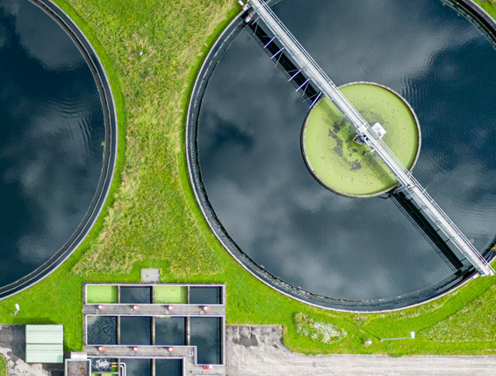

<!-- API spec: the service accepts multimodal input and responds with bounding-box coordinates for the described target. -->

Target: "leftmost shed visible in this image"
[26,327,64,364]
